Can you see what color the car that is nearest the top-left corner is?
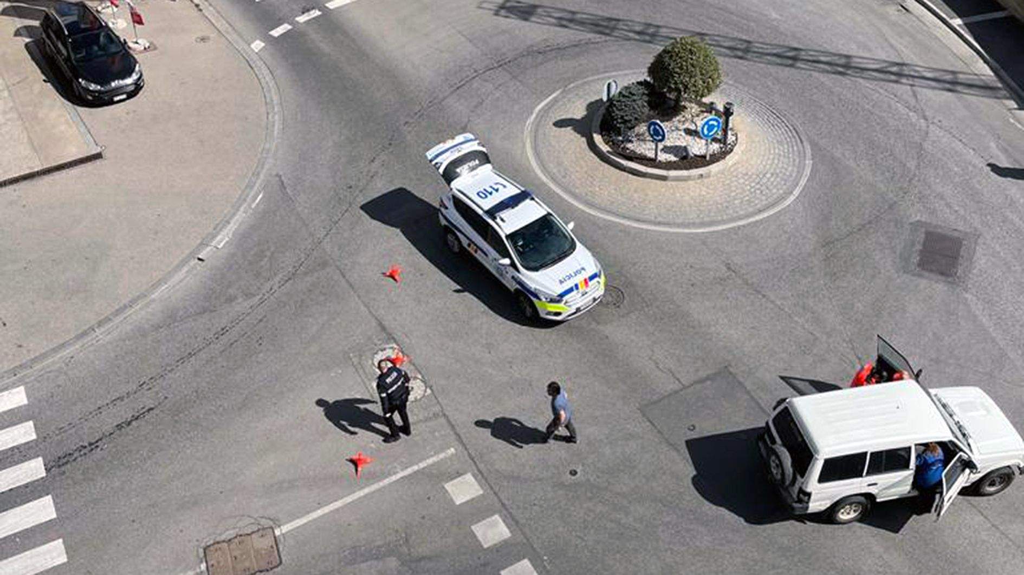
black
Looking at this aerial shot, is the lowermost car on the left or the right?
right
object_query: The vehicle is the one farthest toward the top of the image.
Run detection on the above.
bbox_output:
[37,0,151,109]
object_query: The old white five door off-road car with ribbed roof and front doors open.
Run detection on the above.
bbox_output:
[765,337,1024,523]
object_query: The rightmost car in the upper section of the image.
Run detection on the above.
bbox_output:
[423,130,607,327]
